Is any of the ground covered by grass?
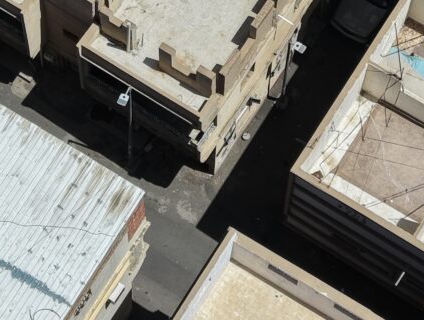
No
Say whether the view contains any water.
No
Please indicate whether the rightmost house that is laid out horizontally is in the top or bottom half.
bottom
